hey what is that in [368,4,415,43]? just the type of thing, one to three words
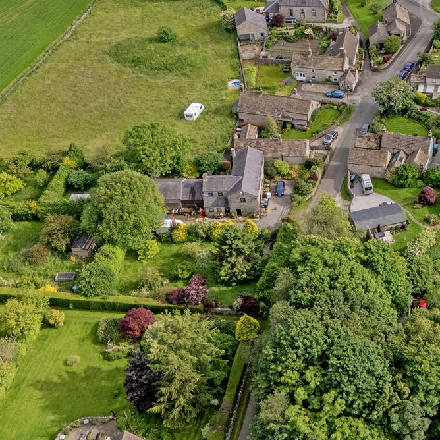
building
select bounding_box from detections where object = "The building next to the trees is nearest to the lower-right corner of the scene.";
[351,203,407,238]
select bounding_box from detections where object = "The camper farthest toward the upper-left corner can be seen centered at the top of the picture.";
[181,103,204,122]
